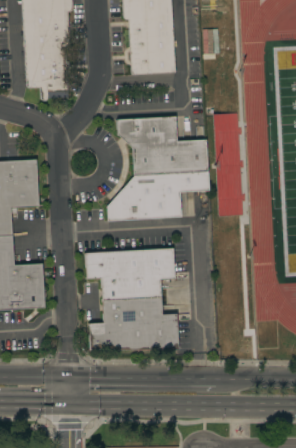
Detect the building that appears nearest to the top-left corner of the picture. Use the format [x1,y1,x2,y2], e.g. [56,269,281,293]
[22,0,74,102]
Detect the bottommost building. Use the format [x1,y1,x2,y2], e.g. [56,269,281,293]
[90,297,180,348]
